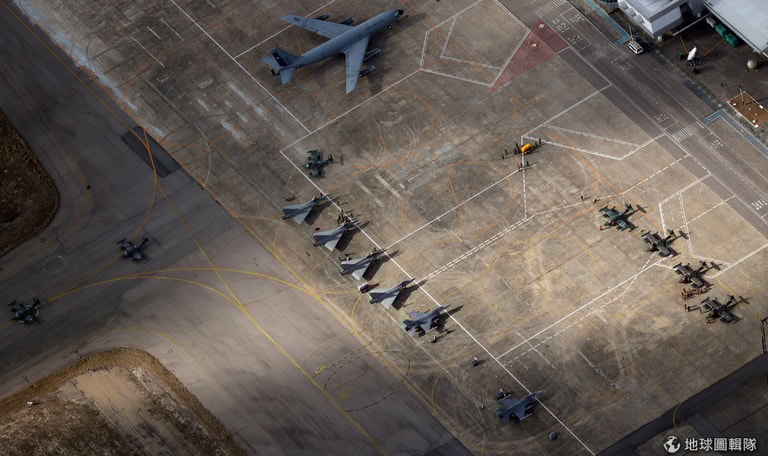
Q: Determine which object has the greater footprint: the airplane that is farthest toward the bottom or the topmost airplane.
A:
the topmost airplane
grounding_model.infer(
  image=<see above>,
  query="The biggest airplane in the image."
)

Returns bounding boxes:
[262,10,404,95]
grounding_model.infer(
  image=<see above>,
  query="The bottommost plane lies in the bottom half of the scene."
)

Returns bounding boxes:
[494,389,545,422]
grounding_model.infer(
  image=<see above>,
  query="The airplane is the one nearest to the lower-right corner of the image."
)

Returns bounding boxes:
[700,295,736,323]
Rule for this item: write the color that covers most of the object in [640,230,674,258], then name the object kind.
gray airplane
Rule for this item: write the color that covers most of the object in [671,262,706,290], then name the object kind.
gray airplane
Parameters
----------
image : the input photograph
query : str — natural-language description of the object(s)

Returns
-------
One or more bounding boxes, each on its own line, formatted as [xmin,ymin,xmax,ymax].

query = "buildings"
[609,0,685,39]
[694,0,768,60]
